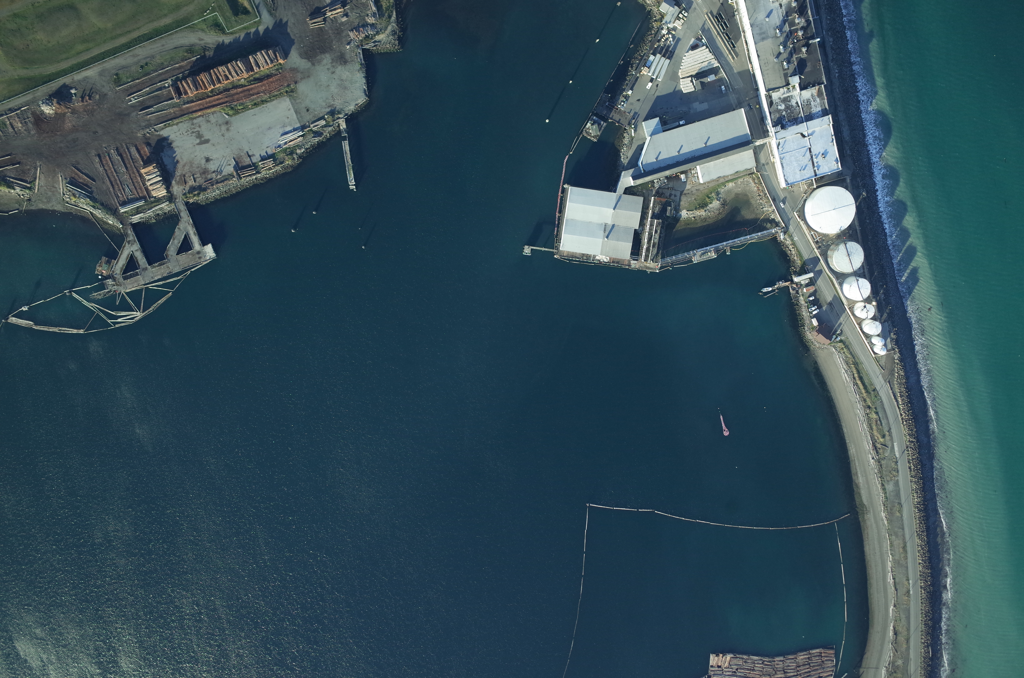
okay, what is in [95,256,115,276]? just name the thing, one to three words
ship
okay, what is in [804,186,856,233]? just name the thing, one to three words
storage tank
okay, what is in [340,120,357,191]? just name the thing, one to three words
pier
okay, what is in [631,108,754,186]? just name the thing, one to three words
building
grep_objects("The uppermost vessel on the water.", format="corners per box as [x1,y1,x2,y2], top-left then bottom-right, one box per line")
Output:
[582,116,607,141]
